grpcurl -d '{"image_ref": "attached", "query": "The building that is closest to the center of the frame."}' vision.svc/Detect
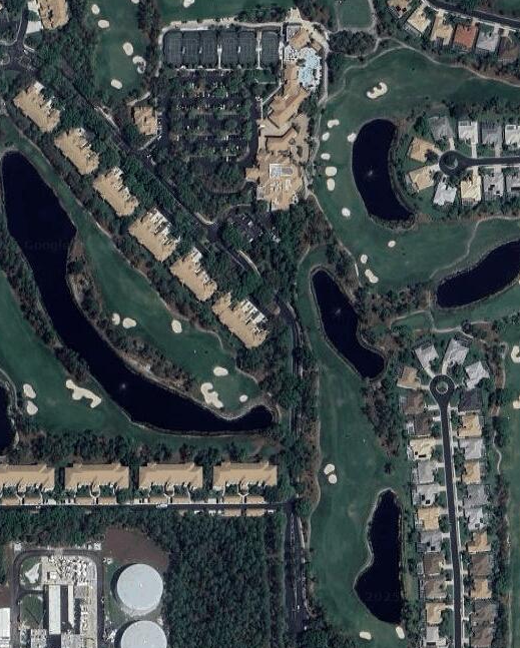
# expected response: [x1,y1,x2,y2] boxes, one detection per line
[211,291,273,351]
